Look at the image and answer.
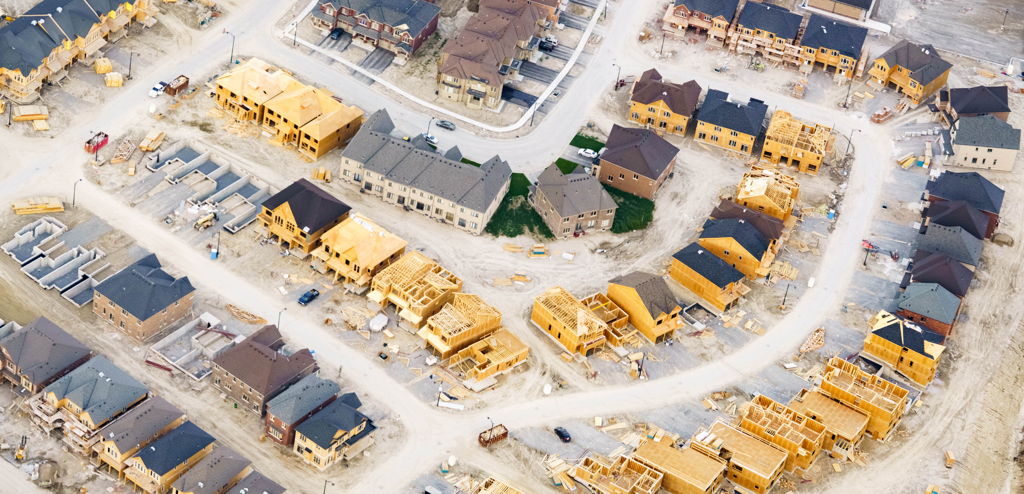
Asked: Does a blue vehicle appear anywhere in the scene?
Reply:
Yes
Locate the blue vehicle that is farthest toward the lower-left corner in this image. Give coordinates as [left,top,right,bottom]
[297,288,320,304]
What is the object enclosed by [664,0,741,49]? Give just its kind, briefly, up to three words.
house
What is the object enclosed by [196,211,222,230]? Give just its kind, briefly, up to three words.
work vehicle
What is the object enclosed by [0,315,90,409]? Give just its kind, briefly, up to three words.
house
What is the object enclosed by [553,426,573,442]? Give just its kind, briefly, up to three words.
car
